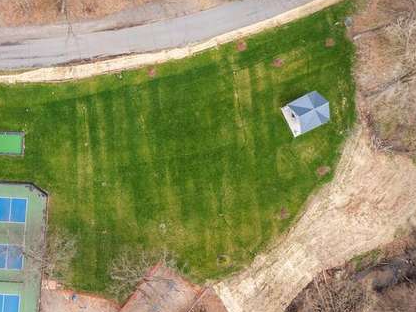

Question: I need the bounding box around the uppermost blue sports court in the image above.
[0,196,27,269]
